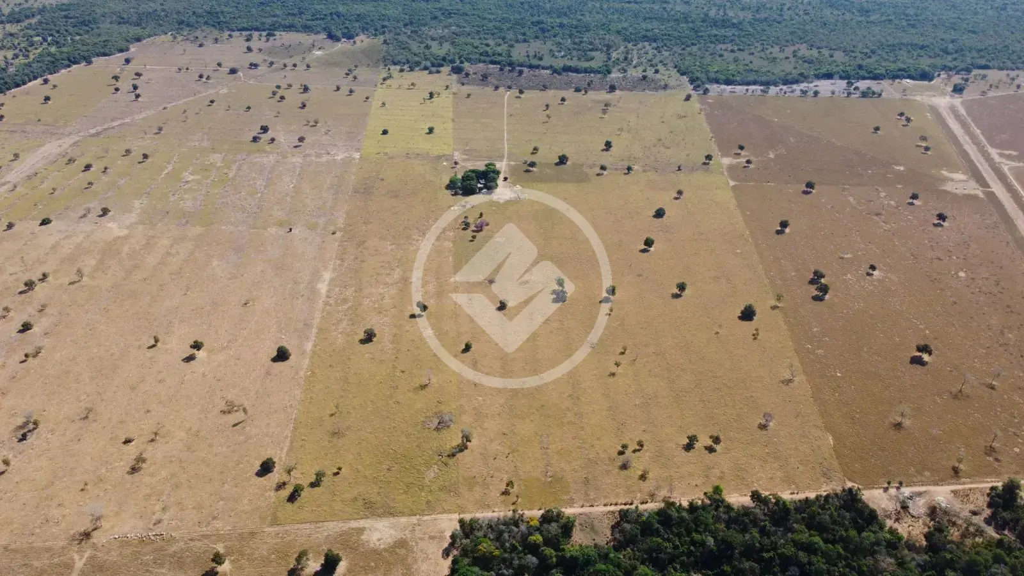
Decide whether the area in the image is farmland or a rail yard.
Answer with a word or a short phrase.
farmland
